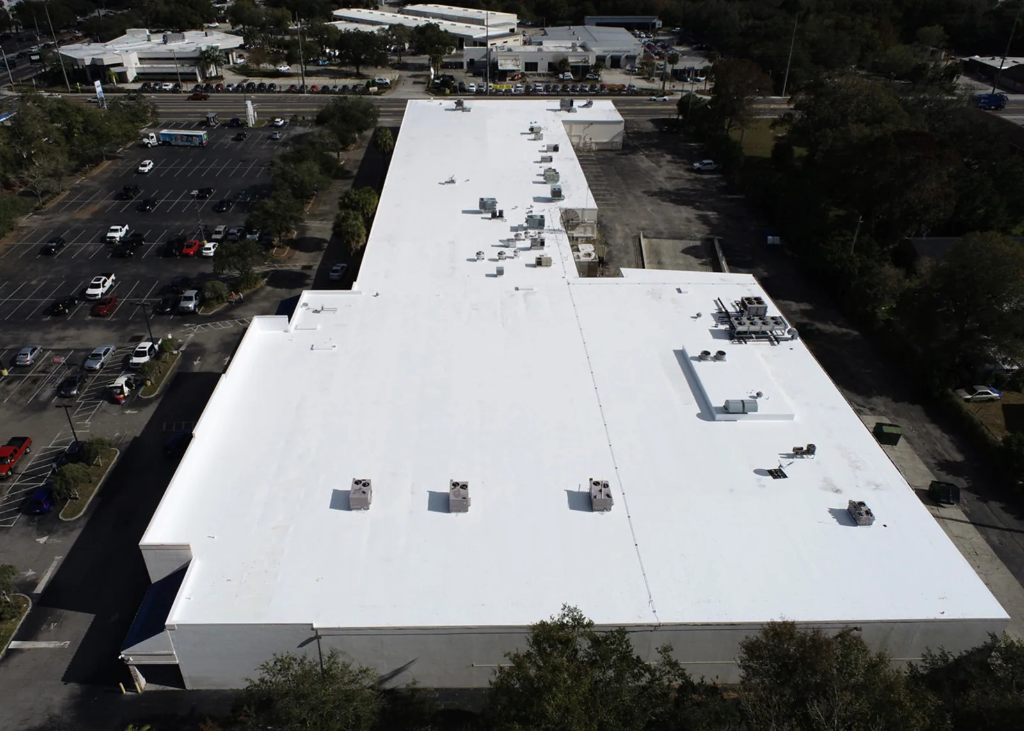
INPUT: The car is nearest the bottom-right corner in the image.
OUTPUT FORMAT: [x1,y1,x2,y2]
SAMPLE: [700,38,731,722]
[959,387,1004,403]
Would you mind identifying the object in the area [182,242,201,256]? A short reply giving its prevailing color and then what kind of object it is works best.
red car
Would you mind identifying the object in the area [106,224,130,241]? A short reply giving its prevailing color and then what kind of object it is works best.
white vehicle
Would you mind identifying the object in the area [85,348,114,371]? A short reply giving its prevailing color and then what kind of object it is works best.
gray car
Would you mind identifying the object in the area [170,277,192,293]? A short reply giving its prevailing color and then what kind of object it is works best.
black car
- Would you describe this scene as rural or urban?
urban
